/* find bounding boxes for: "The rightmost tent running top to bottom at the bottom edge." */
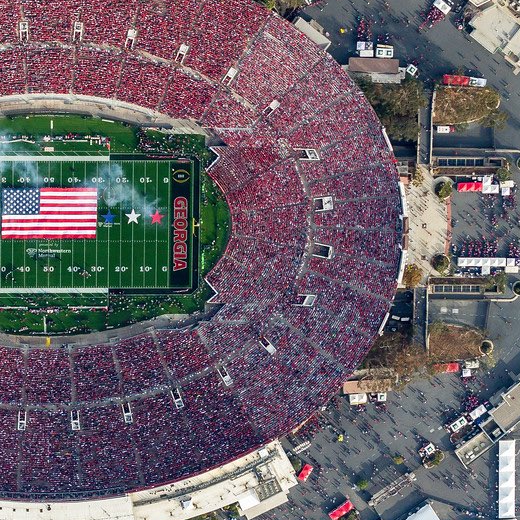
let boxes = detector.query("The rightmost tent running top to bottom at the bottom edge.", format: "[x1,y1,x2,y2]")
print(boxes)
[498,439,514,518]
